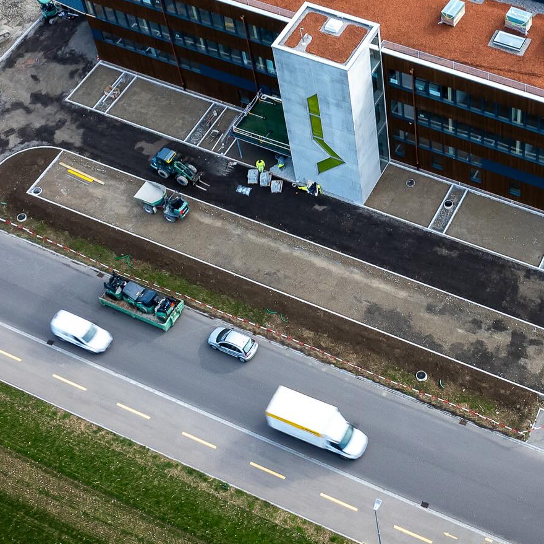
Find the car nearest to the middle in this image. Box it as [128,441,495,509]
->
[207,320,262,359]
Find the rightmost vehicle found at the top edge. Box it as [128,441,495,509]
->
[40,0,63,29]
